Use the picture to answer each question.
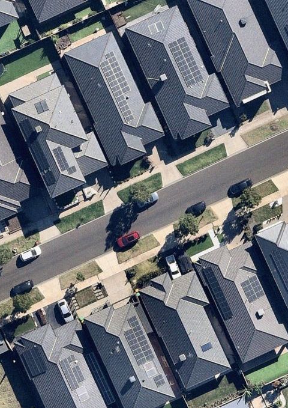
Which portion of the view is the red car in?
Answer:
center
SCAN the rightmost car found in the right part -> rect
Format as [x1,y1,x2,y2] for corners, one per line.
[225,177,254,198]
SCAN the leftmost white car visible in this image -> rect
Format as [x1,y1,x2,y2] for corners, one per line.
[17,245,45,264]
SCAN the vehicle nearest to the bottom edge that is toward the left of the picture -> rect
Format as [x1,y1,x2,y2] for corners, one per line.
[55,296,74,323]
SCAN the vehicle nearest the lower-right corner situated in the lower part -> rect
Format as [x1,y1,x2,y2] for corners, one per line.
[162,249,180,274]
